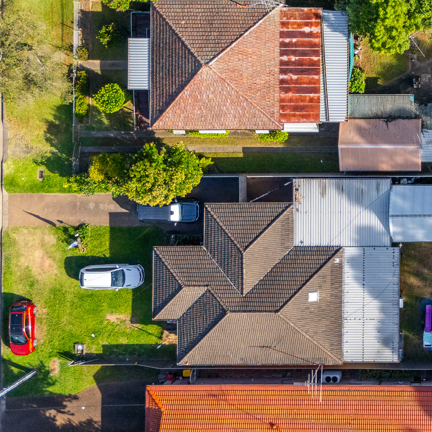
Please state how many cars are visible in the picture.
three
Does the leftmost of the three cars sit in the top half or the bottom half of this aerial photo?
bottom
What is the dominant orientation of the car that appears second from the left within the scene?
horizontally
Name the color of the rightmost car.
blue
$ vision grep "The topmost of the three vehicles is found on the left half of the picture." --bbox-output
[134,199,201,227]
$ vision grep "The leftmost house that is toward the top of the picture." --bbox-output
[128,0,354,134]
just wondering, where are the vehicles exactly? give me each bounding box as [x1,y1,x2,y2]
[134,199,201,227]
[4,300,36,353]
[80,263,144,292]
